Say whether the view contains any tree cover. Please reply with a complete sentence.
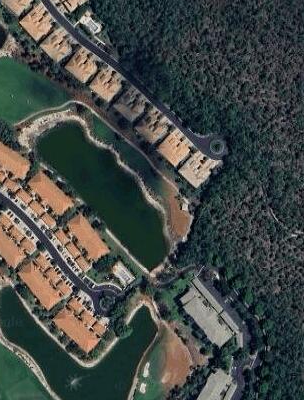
Yes, tree cover can be seen from above here.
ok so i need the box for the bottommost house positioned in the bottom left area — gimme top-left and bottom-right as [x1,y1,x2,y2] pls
[54,300,108,352]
